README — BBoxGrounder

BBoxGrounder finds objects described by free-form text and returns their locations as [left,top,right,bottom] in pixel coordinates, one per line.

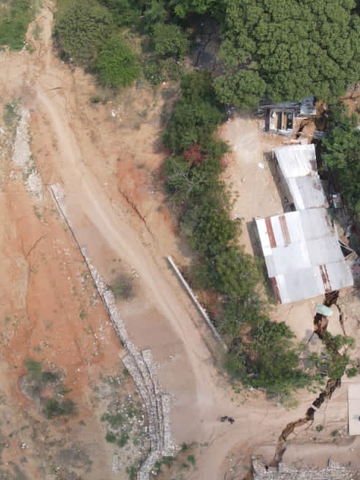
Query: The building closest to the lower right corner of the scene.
[255,206,354,305]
